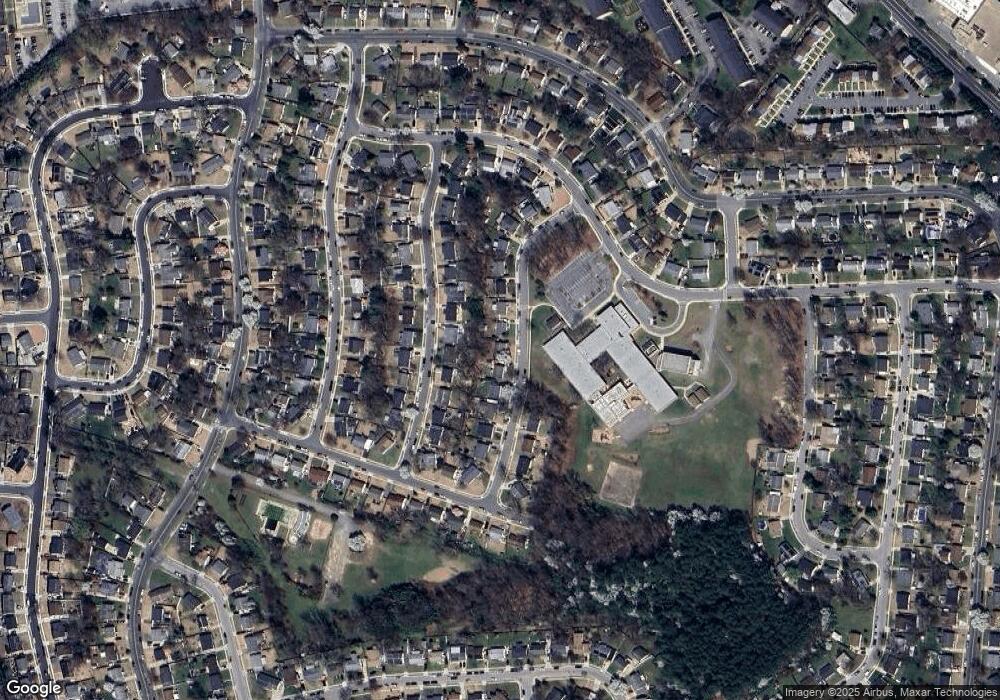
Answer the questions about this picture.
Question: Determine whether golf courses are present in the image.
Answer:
No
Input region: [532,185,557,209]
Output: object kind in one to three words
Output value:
house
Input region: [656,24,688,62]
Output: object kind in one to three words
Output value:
building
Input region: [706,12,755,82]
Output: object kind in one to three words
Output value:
building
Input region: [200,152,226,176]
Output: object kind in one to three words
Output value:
house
